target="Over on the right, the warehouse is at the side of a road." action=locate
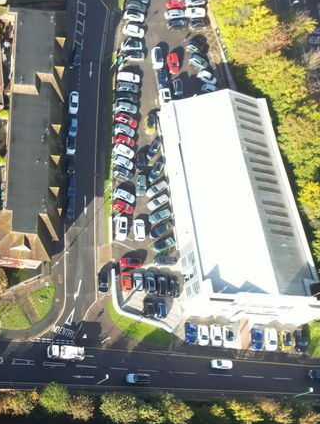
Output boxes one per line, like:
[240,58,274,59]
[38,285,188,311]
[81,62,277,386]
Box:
[159,89,320,326]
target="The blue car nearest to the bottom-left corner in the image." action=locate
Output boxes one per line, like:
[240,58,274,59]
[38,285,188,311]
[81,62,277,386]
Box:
[124,372,151,384]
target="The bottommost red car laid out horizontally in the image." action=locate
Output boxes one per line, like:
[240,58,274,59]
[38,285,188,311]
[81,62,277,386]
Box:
[119,256,143,268]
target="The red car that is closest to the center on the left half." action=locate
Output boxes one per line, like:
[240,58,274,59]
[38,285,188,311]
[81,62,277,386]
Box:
[110,199,134,216]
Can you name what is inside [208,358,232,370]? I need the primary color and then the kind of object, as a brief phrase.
white vehicle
